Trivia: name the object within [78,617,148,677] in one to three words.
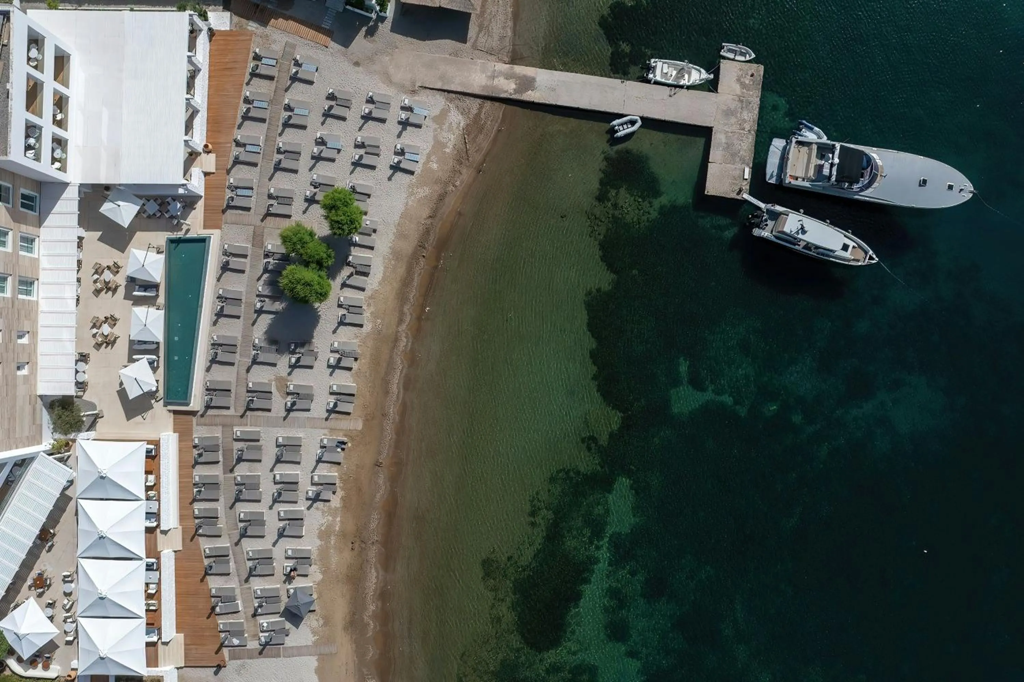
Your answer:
umbrella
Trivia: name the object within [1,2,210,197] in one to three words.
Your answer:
building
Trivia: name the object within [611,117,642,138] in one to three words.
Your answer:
boat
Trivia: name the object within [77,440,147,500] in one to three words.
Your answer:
umbrella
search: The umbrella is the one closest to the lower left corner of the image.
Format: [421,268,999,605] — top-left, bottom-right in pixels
[0,598,61,660]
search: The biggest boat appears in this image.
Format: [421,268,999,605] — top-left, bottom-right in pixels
[764,137,977,208]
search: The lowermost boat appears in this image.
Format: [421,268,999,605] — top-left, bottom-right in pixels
[744,205,879,262]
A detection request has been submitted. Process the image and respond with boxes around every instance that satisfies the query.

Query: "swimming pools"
[163,233,224,411]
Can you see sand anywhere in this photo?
Yes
